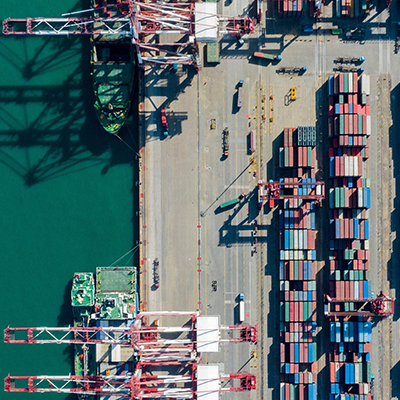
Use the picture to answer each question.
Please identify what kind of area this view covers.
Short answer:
port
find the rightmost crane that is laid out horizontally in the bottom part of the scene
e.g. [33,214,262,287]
[322,293,396,319]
